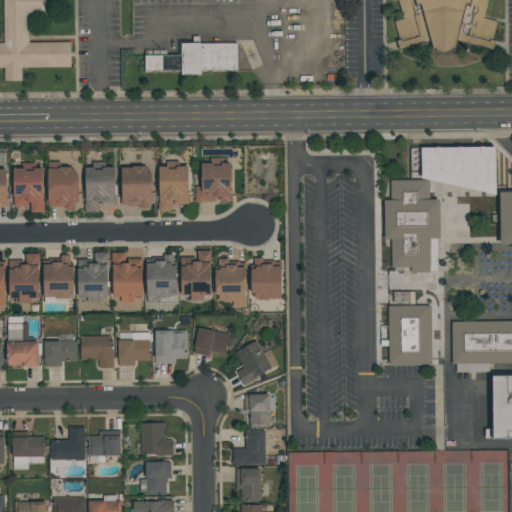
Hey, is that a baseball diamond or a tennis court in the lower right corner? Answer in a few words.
tennis court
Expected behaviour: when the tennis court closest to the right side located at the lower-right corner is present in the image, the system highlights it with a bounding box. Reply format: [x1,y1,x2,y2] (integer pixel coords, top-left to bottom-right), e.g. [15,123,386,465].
[472,450,508,512]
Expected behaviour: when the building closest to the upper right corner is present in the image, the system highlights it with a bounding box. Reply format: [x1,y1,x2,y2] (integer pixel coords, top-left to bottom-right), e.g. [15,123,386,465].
[396,0,500,52]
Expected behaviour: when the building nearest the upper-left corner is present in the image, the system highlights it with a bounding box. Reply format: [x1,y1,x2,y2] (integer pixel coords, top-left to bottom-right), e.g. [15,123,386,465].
[0,0,71,80]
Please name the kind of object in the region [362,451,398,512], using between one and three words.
tennis court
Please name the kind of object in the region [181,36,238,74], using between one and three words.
building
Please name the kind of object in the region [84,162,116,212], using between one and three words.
house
